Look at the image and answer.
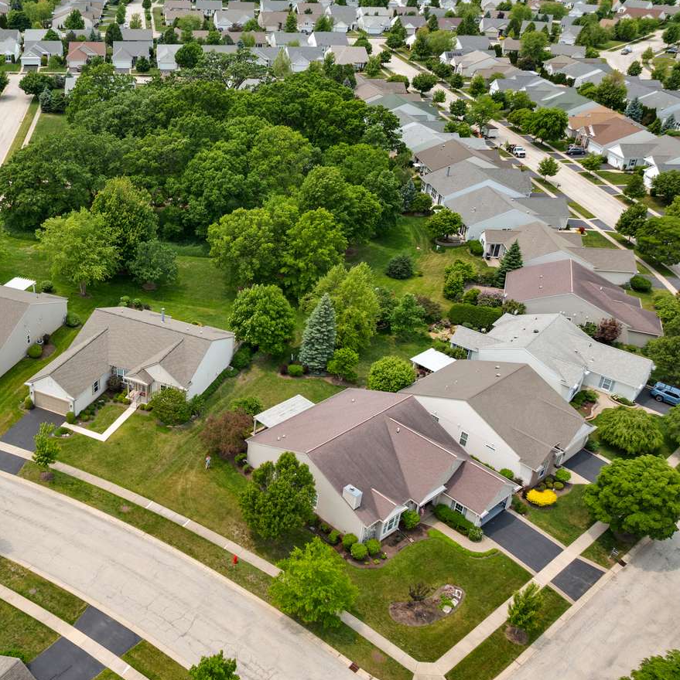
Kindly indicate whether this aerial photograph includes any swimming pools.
No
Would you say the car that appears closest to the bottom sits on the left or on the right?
right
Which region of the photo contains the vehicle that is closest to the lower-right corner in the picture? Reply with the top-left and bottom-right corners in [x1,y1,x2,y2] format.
[644,377,680,399]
